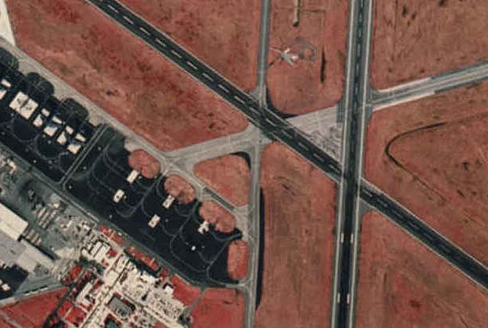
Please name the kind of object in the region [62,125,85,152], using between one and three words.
airplane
